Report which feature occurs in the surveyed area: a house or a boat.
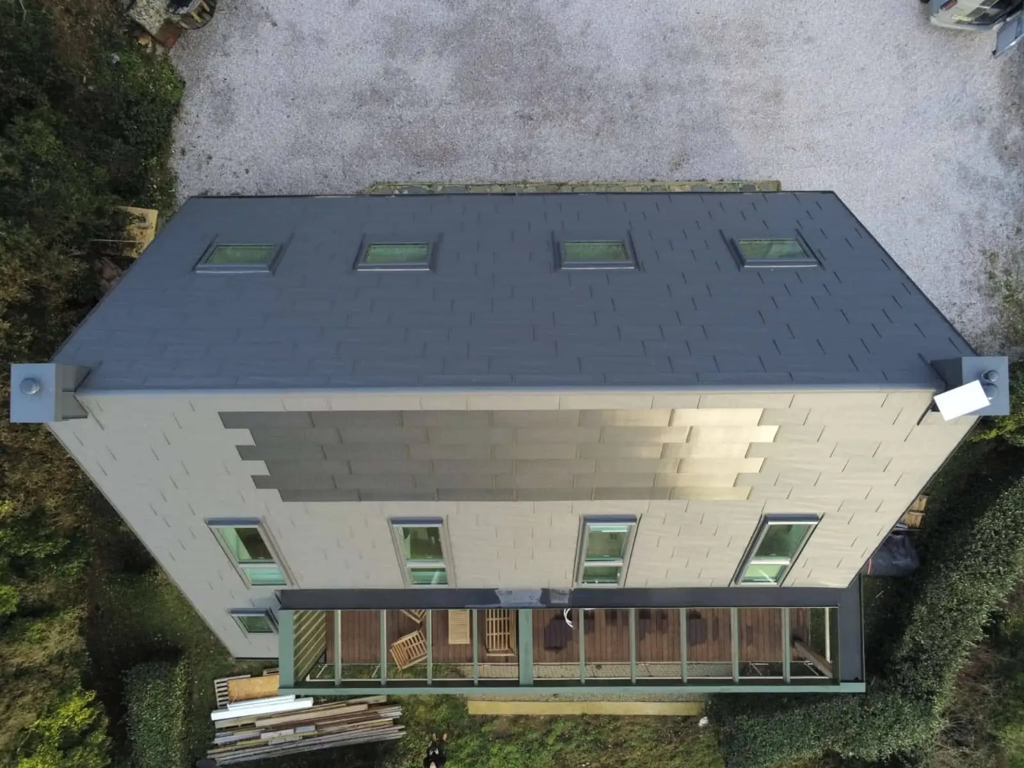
house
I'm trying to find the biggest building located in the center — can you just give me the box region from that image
[11,191,1008,660]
